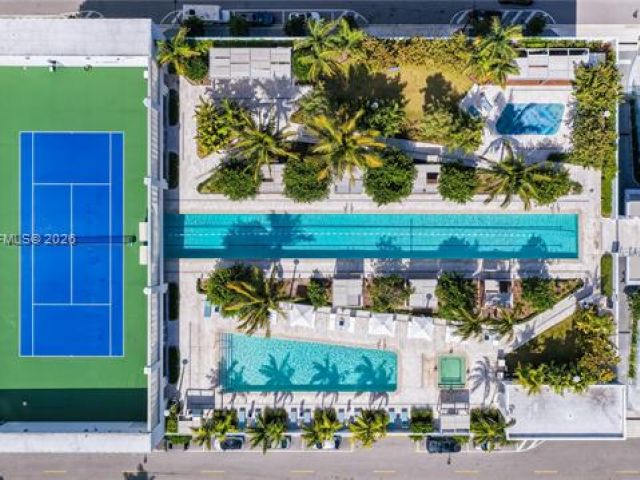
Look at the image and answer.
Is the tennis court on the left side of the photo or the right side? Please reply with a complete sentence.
It is on the left.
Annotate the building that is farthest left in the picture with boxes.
[0,18,169,452]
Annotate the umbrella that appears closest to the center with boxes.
[289,304,313,328]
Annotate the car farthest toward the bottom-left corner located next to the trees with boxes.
[216,436,246,450]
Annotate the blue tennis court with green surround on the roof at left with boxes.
[0,66,148,421]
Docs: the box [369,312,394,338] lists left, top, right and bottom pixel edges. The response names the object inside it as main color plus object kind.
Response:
white umbrella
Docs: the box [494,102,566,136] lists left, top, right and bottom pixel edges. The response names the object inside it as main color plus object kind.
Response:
blue swimming pool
